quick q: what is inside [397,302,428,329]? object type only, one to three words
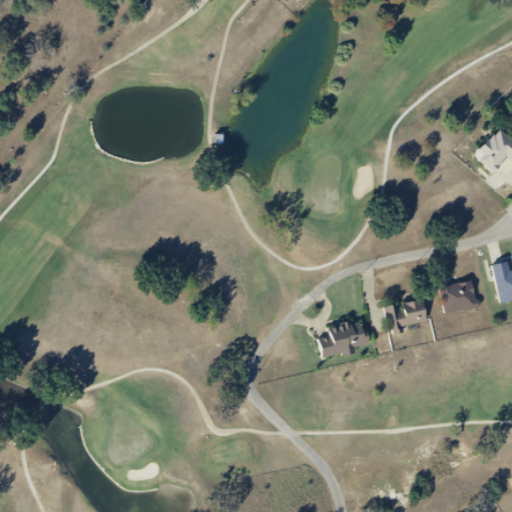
house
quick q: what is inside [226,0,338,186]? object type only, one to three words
pond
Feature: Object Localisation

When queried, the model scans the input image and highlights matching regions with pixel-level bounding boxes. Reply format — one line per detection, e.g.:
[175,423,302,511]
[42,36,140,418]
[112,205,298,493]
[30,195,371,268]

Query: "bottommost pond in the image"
[0,379,195,512]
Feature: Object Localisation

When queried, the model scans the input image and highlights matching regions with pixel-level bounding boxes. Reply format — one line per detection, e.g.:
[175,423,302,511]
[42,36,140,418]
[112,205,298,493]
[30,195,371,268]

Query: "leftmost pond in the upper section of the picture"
[93,86,204,162]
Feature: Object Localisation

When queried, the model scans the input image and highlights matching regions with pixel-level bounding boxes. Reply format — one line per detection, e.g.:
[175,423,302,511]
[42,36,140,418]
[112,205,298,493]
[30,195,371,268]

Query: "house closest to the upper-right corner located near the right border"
[472,128,512,176]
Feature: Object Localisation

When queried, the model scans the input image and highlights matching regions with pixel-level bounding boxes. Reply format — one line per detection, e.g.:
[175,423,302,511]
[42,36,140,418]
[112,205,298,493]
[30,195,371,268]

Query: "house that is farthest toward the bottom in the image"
[316,321,370,360]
